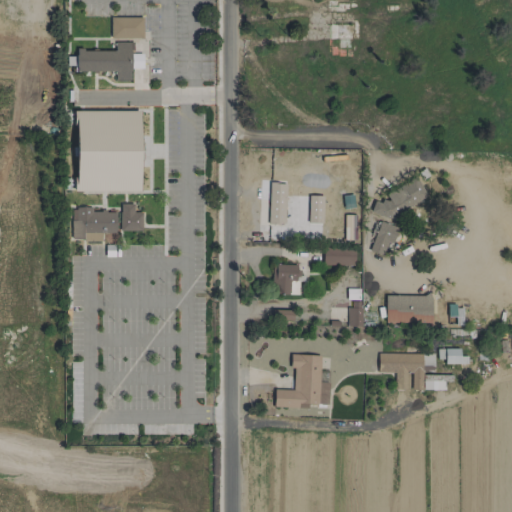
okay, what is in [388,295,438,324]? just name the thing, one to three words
house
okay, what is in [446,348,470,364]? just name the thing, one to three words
house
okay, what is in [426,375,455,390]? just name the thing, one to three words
shed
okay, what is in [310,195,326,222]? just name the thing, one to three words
building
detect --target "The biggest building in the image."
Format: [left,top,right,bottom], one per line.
[77,111,144,194]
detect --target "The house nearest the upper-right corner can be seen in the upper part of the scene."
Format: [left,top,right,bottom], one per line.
[376,180,426,213]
